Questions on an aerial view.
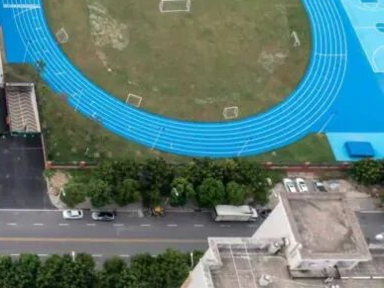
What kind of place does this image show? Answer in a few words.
sports ground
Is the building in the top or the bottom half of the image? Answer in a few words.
bottom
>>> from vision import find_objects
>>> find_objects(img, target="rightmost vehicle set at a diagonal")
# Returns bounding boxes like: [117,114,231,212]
[312,176,330,194]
